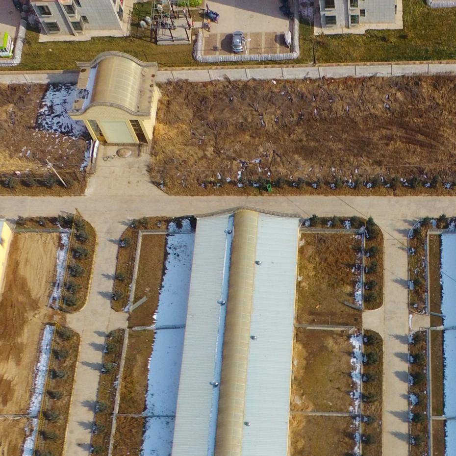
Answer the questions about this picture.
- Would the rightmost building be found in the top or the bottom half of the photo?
top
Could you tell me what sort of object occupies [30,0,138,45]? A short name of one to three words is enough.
building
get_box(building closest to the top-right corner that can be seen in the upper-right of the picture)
[316,0,408,37]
